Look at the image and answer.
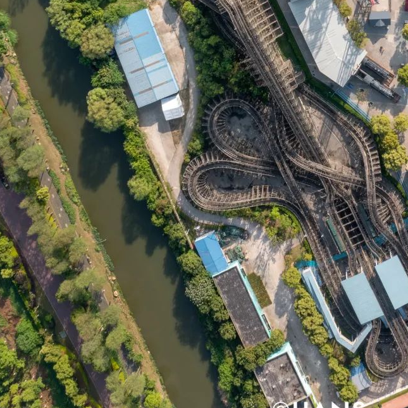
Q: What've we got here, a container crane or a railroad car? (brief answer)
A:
railroad car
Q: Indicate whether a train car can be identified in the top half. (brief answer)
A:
Yes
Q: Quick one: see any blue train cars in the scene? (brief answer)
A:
No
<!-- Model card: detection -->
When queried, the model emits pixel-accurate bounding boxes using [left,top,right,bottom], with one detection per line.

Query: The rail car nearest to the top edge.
[364,56,394,79]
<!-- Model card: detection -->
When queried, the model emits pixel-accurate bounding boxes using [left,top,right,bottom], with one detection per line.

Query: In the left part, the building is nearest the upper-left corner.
[107,8,180,107]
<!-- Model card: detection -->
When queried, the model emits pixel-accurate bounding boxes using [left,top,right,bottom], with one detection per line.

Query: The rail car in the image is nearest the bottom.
[356,71,401,102]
